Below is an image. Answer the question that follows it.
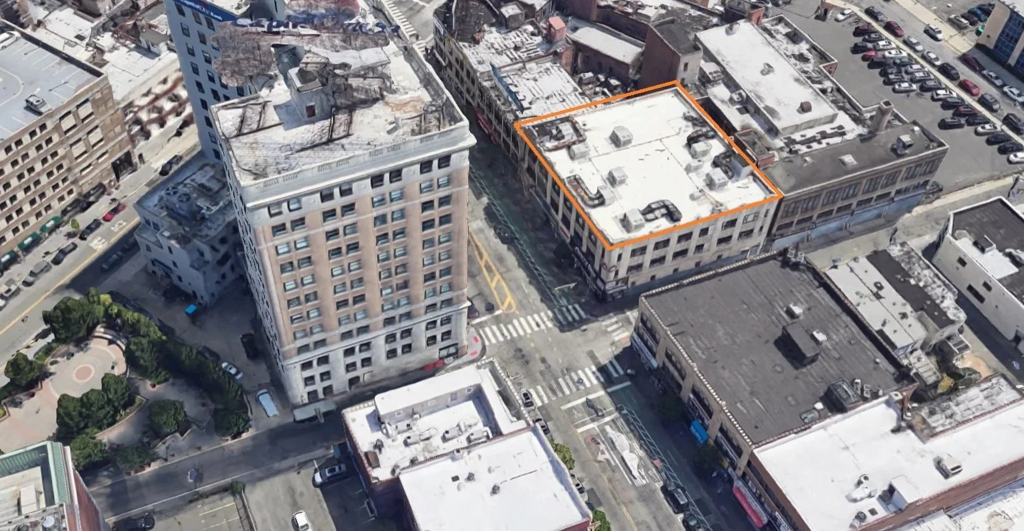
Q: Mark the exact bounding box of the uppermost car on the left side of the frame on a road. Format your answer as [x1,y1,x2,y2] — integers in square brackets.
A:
[160,156,181,172]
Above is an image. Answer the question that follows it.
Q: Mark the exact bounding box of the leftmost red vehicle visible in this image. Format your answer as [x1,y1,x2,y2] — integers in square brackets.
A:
[102,203,125,221]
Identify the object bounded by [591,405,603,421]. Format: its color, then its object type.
gray vehicle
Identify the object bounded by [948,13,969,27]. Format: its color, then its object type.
gray car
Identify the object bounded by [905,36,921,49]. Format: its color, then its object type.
gray vehicle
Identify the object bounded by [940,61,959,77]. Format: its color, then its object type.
black car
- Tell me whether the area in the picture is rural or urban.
urban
